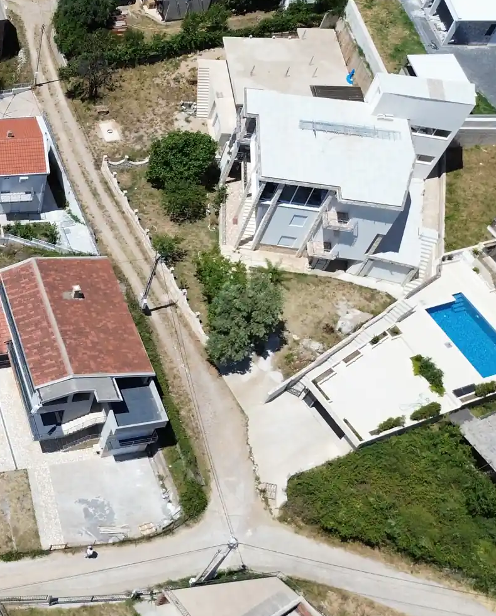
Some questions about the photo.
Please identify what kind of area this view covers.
residential area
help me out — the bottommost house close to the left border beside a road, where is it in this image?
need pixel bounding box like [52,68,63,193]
[0,256,170,461]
